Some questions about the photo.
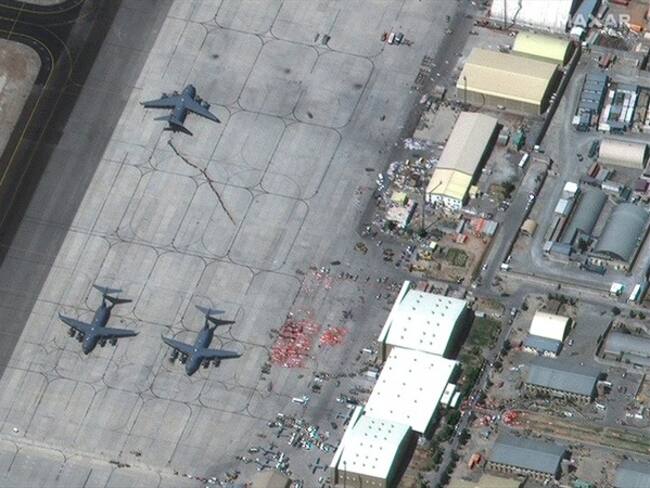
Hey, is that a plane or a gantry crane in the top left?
plane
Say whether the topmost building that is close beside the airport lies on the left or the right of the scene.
right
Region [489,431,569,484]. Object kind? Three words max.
building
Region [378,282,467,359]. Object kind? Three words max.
hangar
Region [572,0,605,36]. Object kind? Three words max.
shed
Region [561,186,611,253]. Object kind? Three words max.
building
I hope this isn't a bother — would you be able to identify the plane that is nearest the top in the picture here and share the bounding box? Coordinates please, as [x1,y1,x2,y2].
[139,84,215,130]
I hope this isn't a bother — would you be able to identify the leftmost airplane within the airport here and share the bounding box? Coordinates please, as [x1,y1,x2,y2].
[60,282,137,354]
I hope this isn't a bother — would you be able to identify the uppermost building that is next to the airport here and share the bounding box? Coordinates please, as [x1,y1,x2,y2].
[490,0,578,37]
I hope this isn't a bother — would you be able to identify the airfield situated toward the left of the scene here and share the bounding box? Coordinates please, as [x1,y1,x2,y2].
[0,0,481,488]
